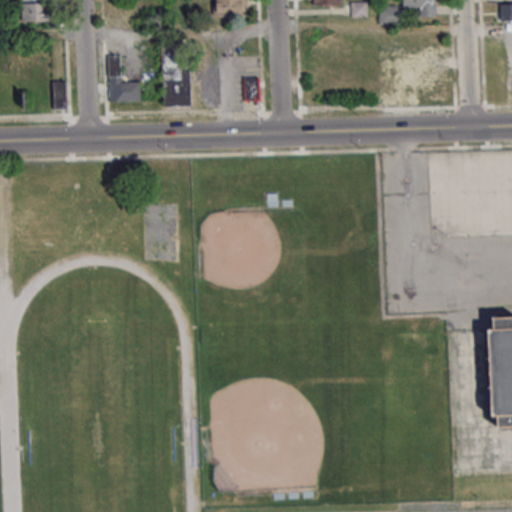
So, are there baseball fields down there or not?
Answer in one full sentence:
Yes, this view includes a baseball field.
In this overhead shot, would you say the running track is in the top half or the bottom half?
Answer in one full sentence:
The running track is in the bottom half of the image.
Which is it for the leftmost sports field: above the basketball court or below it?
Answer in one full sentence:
Looking at the scene, the leftmost sports field is located below the basketball court.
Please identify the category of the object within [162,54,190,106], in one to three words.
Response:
building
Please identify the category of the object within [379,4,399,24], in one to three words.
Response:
house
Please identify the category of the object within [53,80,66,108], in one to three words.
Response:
shed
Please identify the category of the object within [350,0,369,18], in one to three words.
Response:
building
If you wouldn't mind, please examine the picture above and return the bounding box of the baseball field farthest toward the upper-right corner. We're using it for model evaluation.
[191,154,384,336]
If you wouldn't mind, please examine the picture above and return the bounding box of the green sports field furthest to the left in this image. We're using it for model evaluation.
[17,267,188,512]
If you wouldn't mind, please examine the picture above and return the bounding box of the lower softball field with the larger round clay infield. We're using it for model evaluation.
[197,317,454,507]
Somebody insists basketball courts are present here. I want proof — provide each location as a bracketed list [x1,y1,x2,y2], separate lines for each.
[144,204,180,262]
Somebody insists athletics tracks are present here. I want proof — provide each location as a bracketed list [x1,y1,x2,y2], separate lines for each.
[0,250,204,512]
